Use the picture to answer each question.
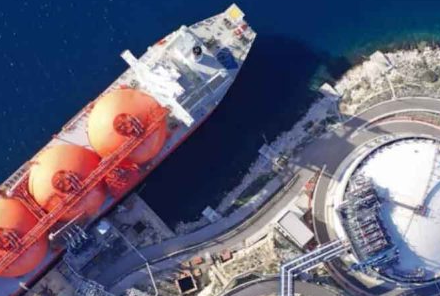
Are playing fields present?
No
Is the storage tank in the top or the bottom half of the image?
bottom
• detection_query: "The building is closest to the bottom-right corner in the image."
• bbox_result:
[278,211,314,246]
